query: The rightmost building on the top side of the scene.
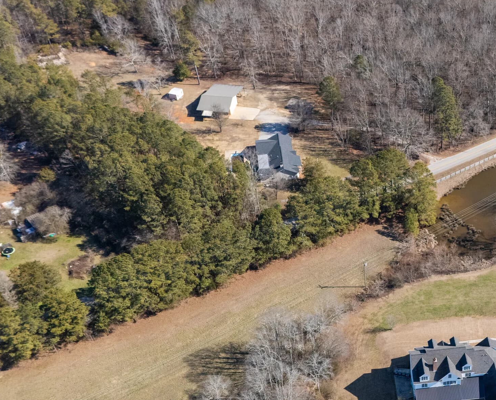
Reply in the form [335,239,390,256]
[256,132,306,184]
